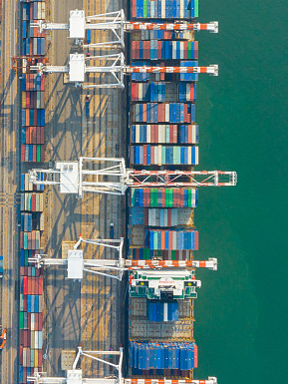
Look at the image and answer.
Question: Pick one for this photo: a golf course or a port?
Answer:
port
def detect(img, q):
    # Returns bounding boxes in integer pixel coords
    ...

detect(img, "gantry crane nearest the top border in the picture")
[32,5,219,52]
